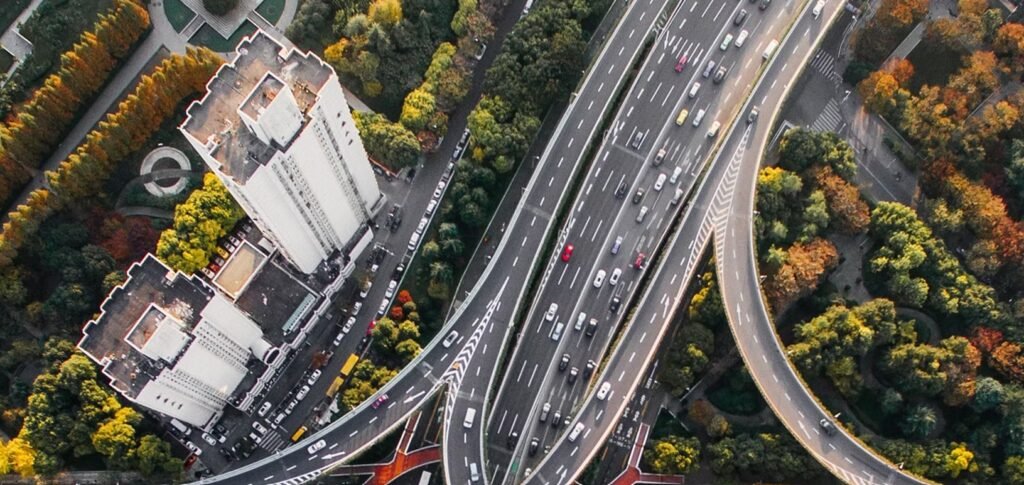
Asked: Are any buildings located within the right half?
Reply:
No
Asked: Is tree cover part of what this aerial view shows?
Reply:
Yes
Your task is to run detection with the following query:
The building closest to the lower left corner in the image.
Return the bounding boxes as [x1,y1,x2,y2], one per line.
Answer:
[80,252,274,429]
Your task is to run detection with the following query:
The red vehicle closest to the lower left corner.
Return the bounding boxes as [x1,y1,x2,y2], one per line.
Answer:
[184,453,197,469]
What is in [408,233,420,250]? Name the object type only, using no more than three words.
vehicle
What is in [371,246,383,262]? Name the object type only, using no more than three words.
vehicle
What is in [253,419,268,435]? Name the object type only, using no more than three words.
car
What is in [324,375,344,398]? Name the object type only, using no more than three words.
bus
